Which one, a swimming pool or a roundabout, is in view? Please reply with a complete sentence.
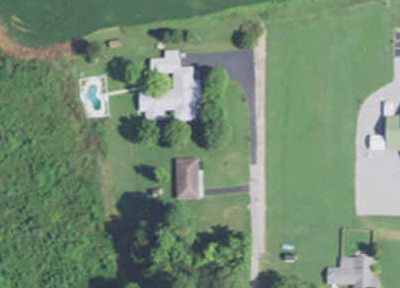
The image shows a swimming pool.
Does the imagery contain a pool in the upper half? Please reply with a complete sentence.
Yes, a pool can be seen in the upper half.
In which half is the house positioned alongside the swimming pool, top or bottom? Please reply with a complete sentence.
It is in the top half that the house positioned alongside the swimming pool appears.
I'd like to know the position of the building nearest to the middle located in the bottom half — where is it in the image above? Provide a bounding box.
[176,158,204,200]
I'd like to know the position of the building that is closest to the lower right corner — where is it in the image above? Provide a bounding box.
[328,256,380,288]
